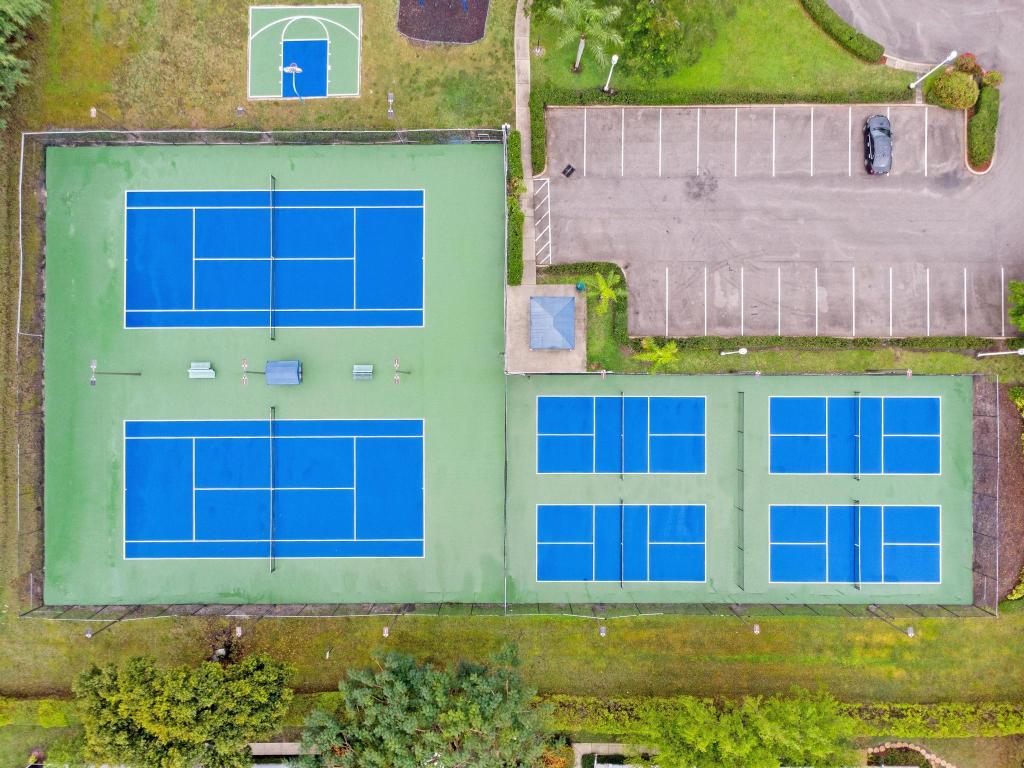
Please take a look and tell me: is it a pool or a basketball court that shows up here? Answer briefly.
basketball court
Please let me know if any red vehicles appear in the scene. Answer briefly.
No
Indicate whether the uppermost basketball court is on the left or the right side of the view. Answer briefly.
left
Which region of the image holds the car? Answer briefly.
top right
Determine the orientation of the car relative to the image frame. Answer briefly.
up and down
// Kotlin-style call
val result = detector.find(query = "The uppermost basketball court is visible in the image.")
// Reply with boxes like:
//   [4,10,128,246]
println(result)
[248,4,362,100]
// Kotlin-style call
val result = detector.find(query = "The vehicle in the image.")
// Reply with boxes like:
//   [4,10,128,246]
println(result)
[861,114,894,177]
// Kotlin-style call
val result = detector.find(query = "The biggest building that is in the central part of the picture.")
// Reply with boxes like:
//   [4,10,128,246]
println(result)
[529,297,575,350]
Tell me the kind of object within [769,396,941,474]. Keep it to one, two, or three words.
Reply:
sports court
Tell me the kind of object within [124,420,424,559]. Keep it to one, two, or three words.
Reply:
tennis court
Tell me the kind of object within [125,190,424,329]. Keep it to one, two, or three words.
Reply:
tennis court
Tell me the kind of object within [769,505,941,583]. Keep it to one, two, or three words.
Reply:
sports court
